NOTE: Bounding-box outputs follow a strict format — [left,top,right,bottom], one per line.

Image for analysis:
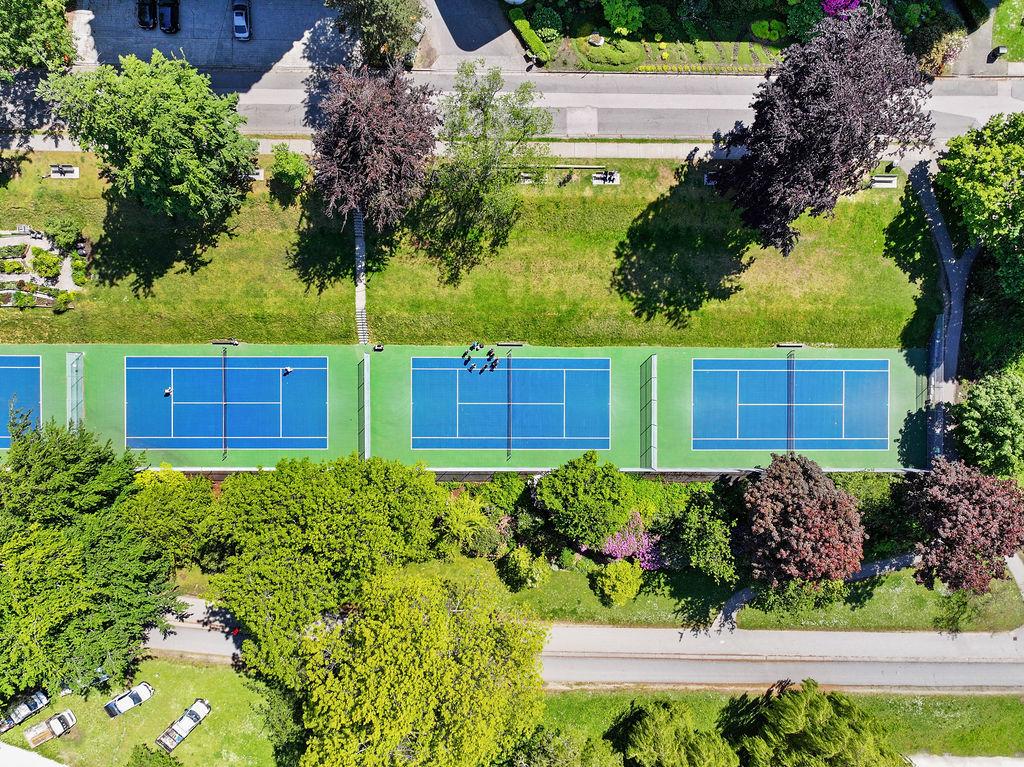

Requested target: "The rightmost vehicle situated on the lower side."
[156,698,211,754]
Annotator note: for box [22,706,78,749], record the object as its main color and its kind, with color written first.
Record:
white truck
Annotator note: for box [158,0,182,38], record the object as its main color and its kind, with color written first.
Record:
black car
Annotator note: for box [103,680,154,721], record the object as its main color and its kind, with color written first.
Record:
white truck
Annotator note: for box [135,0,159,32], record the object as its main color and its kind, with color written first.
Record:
black car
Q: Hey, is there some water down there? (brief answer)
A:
No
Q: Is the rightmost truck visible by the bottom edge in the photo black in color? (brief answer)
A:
No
